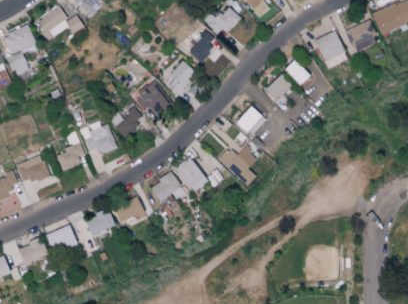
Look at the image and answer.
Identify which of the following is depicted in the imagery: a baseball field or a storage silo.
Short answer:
baseball field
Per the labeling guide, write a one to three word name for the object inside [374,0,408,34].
house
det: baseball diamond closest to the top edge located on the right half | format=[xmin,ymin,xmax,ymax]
[264,220,342,293]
